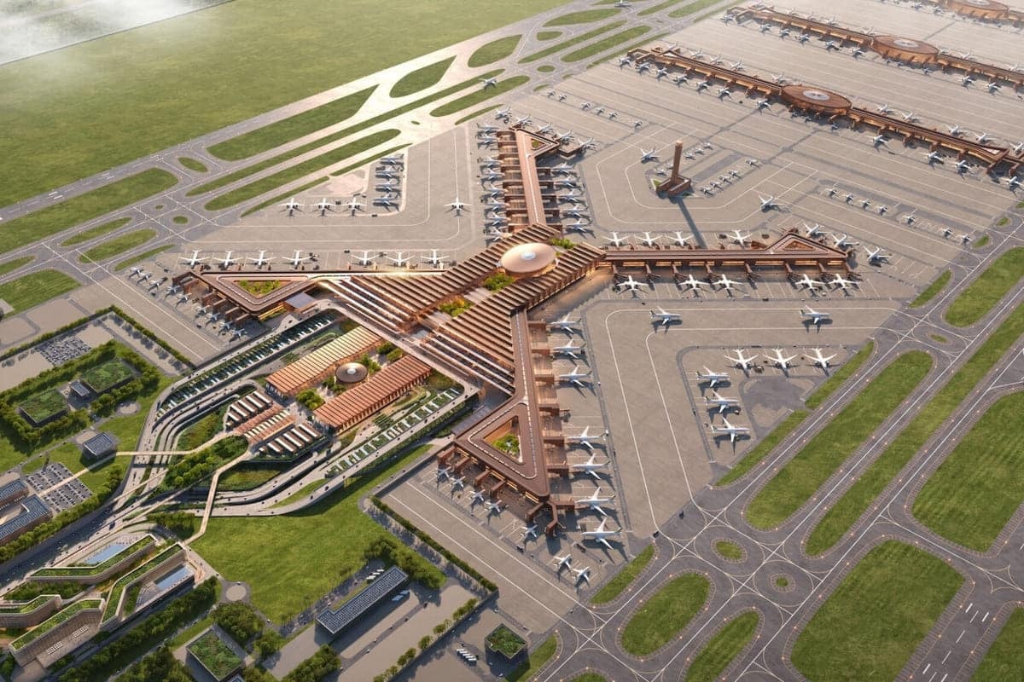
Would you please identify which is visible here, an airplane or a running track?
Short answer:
airplane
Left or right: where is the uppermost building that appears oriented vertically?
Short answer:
right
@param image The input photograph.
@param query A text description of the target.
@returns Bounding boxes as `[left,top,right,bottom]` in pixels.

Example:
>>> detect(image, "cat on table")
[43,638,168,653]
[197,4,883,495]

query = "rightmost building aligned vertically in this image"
[655,134,691,202]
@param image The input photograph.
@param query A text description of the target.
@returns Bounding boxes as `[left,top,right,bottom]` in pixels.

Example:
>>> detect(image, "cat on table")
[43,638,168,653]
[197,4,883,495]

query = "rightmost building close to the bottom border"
[485,623,527,666]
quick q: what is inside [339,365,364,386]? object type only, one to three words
building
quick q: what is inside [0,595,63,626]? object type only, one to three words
building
